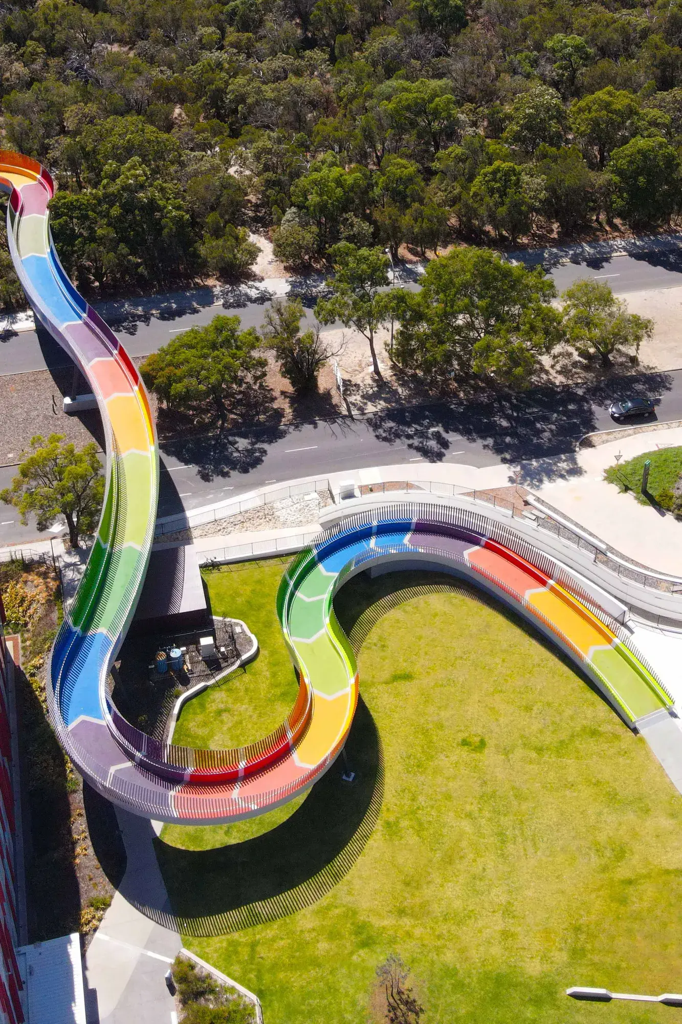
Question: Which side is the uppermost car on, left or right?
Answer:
right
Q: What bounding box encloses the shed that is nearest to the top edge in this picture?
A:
[125,545,206,643]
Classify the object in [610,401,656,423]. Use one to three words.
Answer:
car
